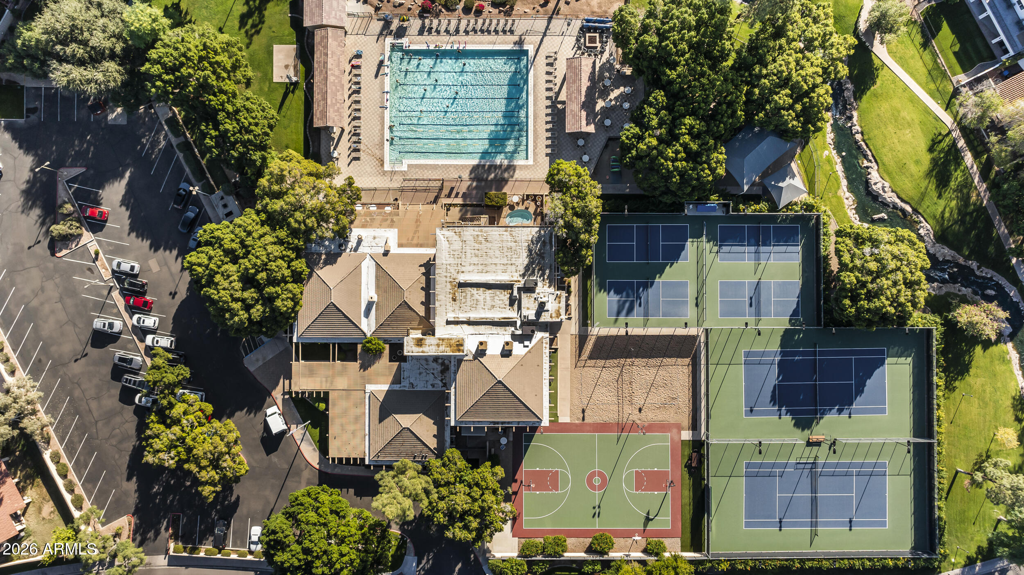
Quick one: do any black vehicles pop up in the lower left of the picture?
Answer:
Yes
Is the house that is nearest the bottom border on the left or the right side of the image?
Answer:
left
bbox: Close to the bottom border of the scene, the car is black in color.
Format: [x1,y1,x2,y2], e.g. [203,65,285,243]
[212,519,229,550]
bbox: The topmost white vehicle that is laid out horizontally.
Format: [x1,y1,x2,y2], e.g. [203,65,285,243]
[112,260,142,275]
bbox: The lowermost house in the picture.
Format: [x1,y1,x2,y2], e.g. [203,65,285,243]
[0,453,43,544]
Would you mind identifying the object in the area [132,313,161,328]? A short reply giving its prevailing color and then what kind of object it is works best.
white car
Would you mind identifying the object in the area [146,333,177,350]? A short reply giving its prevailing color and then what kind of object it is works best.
white car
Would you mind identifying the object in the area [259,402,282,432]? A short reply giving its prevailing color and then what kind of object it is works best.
white vehicle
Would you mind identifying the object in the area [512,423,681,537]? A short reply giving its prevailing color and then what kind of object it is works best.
green basketball court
